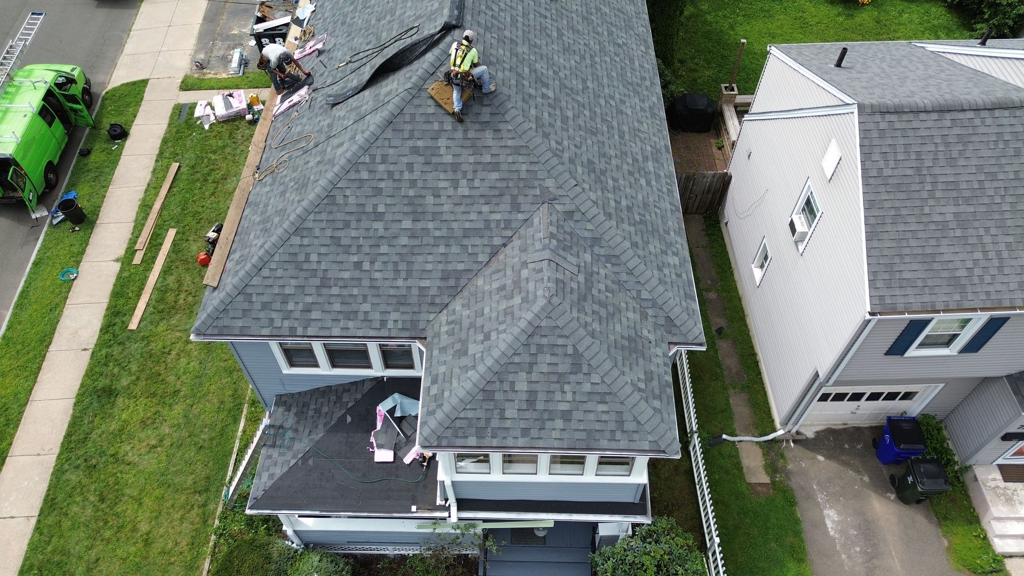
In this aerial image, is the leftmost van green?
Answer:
Yes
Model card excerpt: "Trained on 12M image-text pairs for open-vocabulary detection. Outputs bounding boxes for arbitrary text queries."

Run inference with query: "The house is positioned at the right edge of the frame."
[719,25,1024,468]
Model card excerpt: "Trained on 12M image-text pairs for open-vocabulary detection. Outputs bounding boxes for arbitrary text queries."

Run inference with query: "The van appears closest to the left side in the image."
[0,67,98,213]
